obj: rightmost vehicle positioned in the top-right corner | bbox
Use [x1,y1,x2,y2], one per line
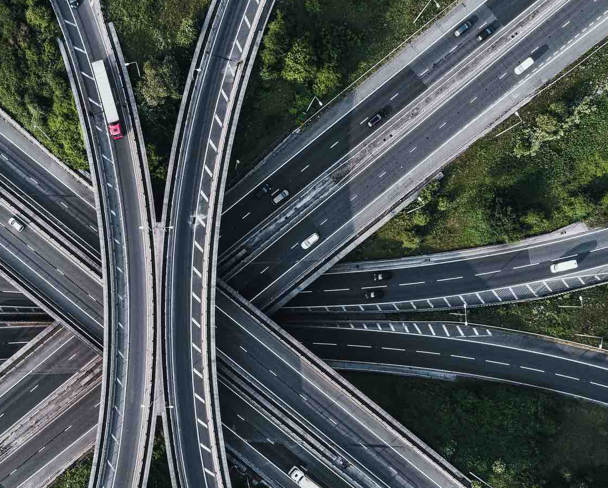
[510,55,537,77]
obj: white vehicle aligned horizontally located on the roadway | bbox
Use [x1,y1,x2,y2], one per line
[548,258,579,273]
